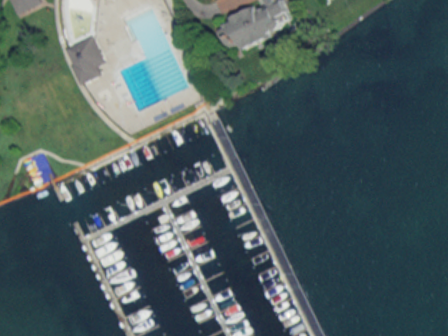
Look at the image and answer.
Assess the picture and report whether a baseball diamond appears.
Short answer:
No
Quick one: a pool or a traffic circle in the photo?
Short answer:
pool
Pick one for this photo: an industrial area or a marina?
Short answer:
marina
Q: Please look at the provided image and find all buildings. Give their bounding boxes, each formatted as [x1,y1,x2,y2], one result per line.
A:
[12,0,42,18]
[218,0,292,50]
[67,36,105,83]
